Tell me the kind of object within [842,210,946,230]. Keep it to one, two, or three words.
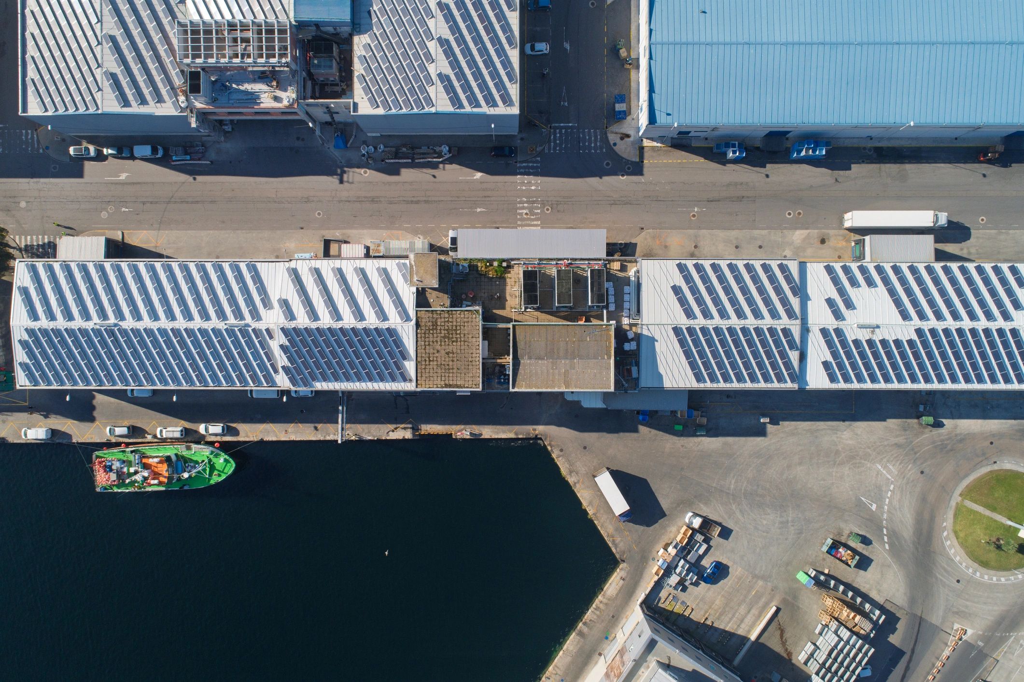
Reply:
vehicle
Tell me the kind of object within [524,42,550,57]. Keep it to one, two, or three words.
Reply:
car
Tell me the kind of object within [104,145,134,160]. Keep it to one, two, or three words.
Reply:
car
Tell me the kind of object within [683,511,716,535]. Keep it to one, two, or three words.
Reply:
truck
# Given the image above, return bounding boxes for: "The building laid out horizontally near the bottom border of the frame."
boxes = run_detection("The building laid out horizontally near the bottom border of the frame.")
[570,603,766,682]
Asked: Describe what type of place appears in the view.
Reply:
industrial area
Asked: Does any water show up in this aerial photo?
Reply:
Yes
